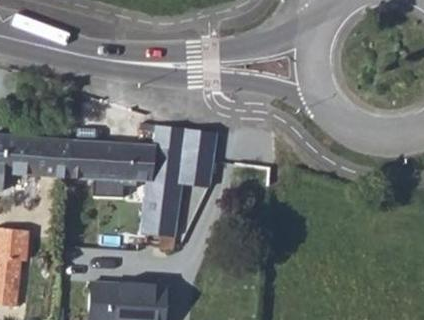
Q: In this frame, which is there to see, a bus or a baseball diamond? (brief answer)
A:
bus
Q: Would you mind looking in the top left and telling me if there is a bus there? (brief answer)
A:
Yes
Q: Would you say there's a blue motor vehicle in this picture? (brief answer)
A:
No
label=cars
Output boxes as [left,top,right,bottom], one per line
[68,264,88,274]
[98,44,122,54]
[93,258,118,269]
[145,48,164,58]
